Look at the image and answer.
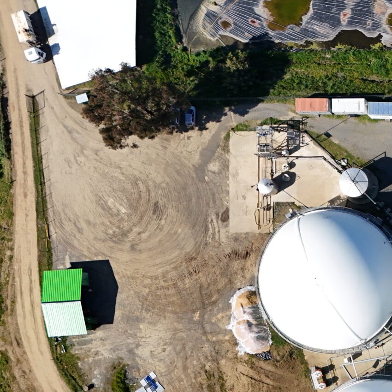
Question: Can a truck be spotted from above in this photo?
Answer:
Yes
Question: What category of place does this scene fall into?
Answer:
industrial area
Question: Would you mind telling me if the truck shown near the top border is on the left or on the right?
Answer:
left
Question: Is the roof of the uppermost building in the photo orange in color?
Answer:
No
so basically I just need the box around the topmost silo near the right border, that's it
[339,165,379,201]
